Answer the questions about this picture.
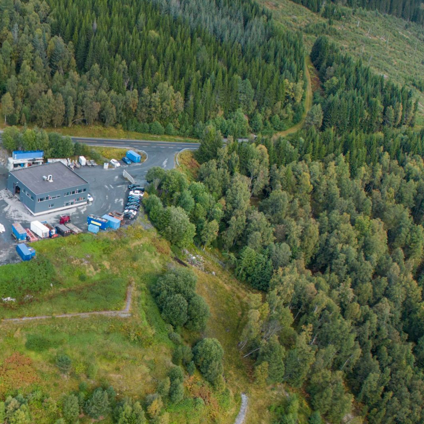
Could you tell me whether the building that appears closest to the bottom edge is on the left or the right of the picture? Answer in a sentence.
The building that appears closest to the bottom edge is on the left side of the image.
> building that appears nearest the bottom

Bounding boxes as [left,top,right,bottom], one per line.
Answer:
[0,164,90,216]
